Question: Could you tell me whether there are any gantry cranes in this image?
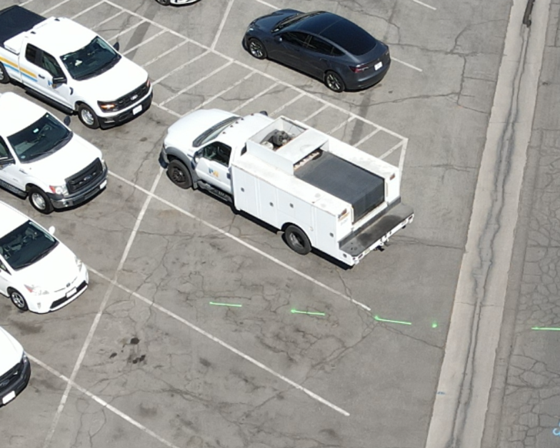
No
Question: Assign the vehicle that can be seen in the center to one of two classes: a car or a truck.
truck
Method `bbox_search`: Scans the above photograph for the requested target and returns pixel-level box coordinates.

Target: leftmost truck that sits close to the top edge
[0,4,156,128]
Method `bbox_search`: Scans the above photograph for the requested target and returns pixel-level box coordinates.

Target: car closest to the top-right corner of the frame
[248,5,395,92]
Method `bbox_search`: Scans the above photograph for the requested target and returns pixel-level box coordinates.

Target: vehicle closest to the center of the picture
[155,107,416,271]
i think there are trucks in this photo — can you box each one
[0,94,112,214]
[155,107,416,271]
[0,334,31,404]
[0,4,156,128]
